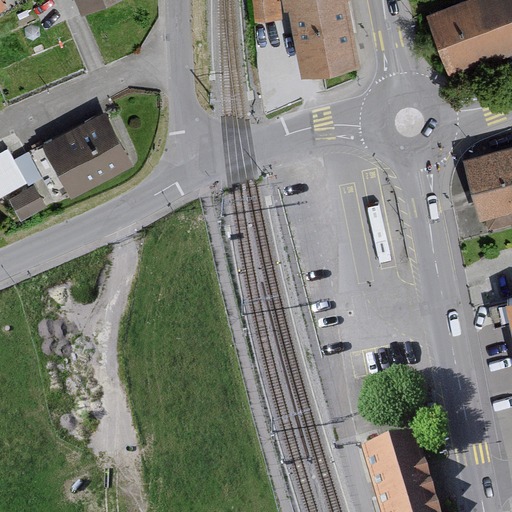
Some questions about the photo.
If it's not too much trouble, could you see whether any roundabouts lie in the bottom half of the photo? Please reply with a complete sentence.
No, in the bottom half of the photo there is no roundabout.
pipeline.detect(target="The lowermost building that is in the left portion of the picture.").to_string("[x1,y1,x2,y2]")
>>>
[9,185,47,222]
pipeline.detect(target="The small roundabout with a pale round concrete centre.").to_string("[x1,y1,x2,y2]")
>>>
[394,106,425,138]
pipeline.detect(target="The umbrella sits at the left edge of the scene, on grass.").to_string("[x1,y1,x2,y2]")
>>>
[25,24,40,40]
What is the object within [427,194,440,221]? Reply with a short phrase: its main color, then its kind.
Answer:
white vehicle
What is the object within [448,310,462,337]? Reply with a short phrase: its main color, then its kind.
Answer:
white vehicle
